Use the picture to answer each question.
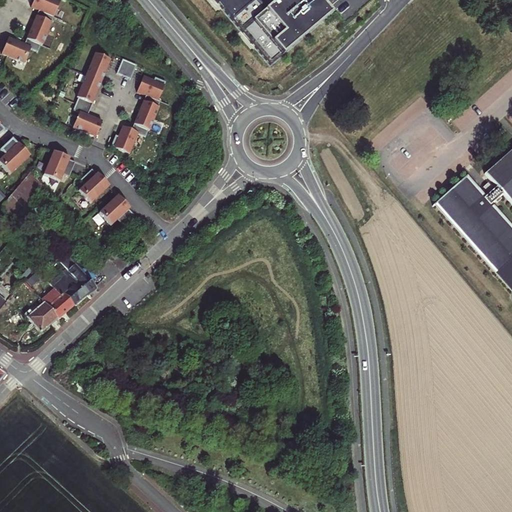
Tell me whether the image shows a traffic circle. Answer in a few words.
Yes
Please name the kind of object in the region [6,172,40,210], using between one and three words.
barn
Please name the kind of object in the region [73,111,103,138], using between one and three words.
house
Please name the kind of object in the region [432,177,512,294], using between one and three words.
building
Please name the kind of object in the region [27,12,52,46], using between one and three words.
house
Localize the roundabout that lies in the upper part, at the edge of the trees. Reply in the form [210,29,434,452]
[228,101,308,182]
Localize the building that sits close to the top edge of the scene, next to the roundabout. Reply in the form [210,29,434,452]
[208,0,334,64]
